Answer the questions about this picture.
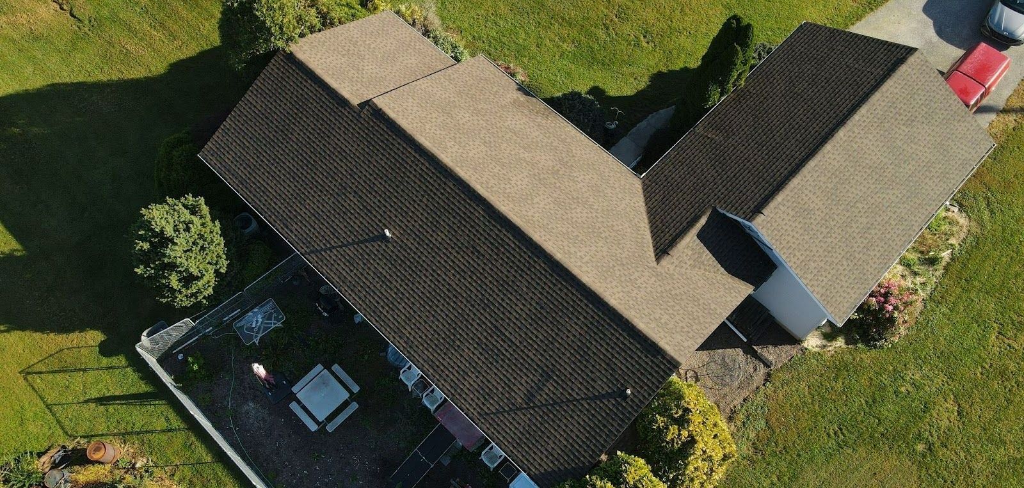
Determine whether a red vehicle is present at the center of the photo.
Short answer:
No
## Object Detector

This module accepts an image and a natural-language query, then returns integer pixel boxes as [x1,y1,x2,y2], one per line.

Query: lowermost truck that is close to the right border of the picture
[942,43,1010,118]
